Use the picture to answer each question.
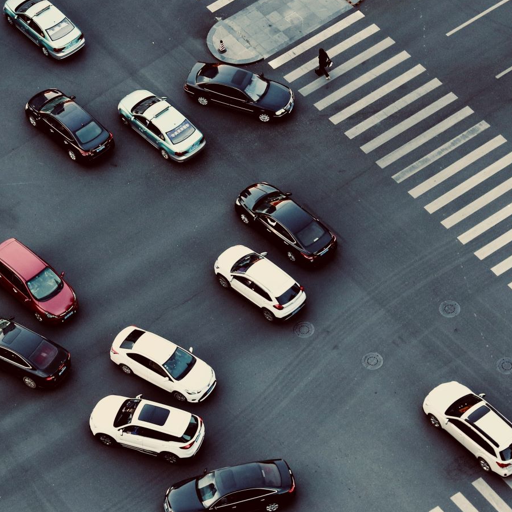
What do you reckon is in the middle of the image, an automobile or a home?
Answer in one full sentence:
The one visible in the middle of the image is an automobile.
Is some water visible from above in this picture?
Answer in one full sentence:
No, the picture contains no water.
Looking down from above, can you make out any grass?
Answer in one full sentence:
No, the picture contains no grass.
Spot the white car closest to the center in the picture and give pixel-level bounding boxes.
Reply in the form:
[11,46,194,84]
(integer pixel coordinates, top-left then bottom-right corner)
[213,246,311,323]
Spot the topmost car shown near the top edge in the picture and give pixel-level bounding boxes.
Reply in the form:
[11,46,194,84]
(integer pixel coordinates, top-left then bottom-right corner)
[2,0,85,61]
